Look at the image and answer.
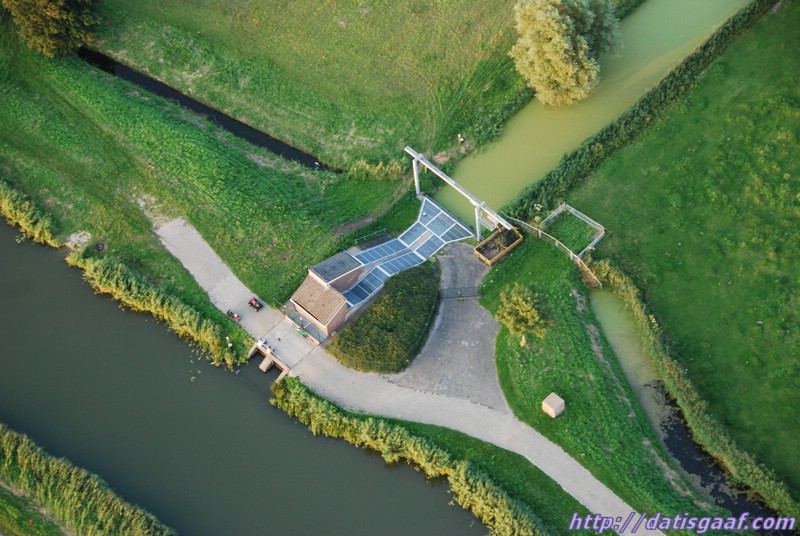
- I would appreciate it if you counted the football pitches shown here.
0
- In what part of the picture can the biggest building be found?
center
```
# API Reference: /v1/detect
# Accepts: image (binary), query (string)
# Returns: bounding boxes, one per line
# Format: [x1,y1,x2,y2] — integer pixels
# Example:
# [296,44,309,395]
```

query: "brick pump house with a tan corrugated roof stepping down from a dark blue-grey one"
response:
[289,248,365,335]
